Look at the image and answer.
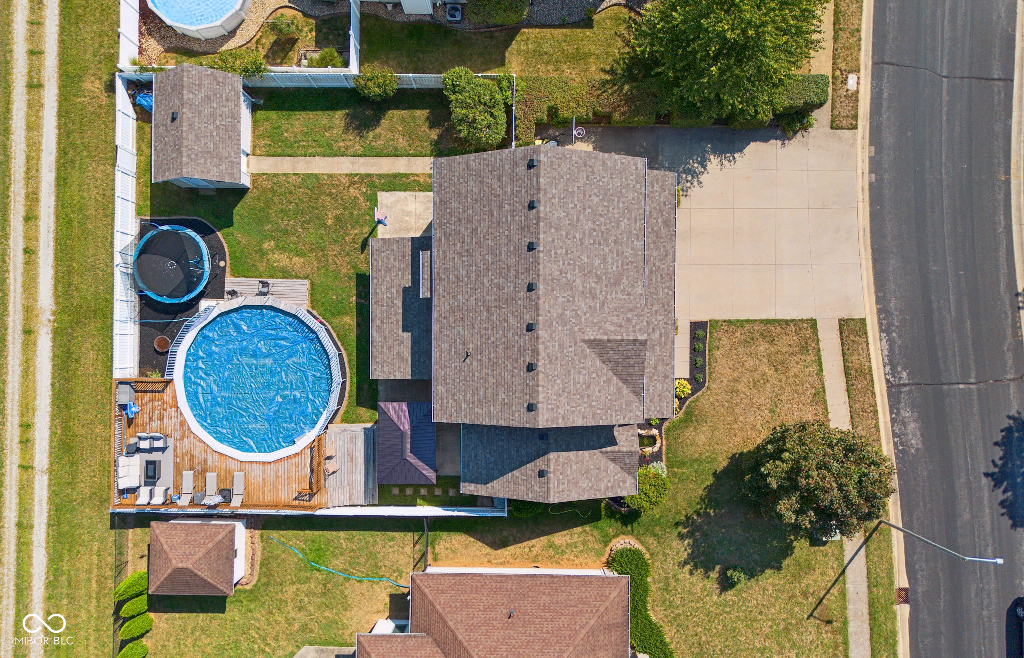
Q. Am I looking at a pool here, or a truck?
pool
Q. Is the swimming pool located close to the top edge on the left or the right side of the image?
left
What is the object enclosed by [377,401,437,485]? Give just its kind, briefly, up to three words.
gazebo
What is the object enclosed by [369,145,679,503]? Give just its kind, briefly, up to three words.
house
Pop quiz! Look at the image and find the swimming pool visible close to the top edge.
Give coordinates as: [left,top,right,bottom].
[147,0,260,38]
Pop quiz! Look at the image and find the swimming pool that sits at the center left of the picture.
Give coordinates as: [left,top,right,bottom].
[173,292,344,461]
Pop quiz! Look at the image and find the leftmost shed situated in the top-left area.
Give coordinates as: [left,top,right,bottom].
[151,64,268,198]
